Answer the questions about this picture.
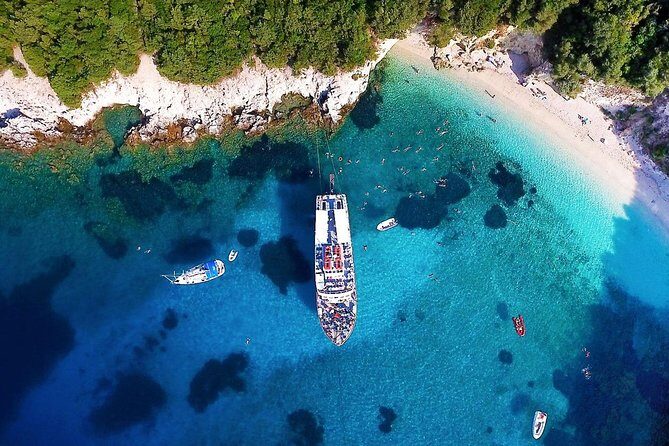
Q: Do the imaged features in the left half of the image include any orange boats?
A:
No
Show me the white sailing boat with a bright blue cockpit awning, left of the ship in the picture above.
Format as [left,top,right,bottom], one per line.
[159,259,225,284]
